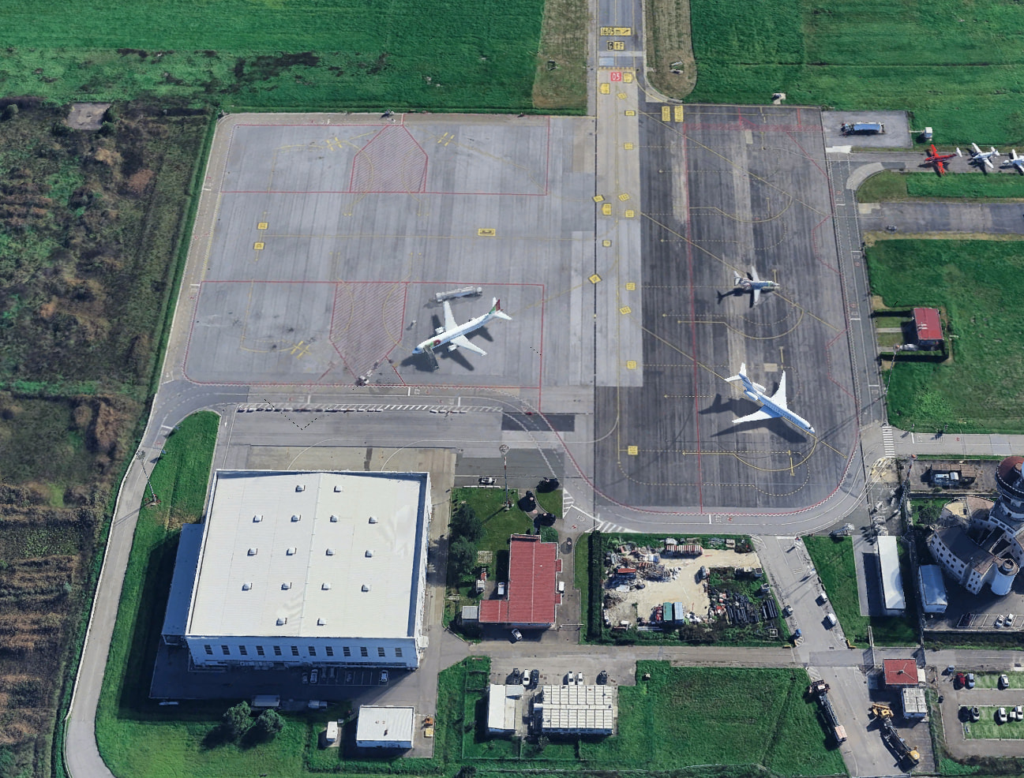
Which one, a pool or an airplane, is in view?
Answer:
airplane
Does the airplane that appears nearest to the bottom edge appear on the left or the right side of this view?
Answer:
right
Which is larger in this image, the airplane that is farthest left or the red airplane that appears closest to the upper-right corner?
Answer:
the airplane that is farthest left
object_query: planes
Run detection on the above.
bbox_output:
[728,357,815,432]
[971,142,1004,169]
[923,144,964,172]
[411,291,512,353]
[1001,147,1024,173]
[733,267,779,297]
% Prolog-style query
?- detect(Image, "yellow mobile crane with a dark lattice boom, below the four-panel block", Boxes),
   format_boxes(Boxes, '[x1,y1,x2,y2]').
[870,704,920,763]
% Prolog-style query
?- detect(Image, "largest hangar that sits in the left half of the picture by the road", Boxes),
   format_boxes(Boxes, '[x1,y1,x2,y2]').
[186,471,432,669]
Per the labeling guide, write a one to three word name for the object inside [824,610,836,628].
vehicle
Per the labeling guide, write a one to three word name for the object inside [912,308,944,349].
house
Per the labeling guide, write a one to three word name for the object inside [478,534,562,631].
building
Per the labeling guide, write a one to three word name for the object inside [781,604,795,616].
vehicle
